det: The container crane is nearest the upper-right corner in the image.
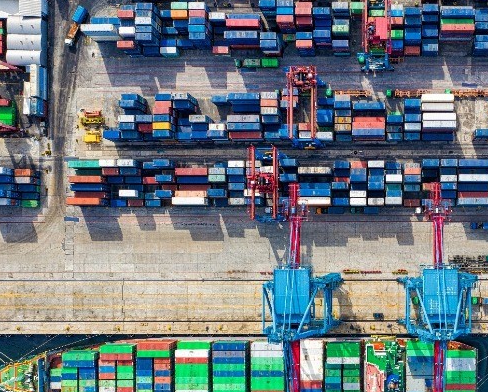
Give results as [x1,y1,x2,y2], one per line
[361,0,397,64]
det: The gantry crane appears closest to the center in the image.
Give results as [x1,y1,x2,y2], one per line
[247,143,292,221]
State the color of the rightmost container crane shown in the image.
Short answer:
blue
